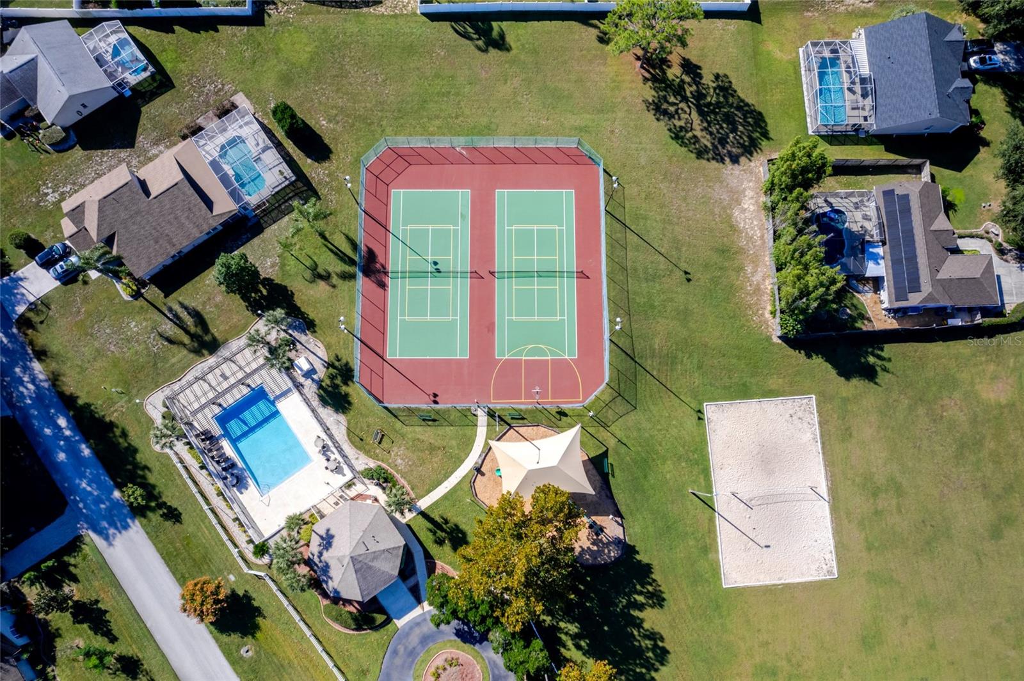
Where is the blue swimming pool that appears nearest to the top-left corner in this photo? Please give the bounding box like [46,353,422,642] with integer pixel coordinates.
[110,35,150,77]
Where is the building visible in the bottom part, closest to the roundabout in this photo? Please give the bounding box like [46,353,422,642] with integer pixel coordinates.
[308,500,406,602]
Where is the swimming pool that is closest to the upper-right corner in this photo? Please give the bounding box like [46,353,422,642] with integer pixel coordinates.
[816,54,849,126]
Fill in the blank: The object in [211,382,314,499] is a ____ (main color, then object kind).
blue swimming pool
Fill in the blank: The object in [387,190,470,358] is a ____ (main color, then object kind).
green tennis court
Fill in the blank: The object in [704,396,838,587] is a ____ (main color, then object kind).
white sports court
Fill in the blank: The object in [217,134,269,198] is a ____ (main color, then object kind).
blue swimming pool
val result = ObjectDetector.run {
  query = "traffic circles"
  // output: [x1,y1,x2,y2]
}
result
[377,608,523,681]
